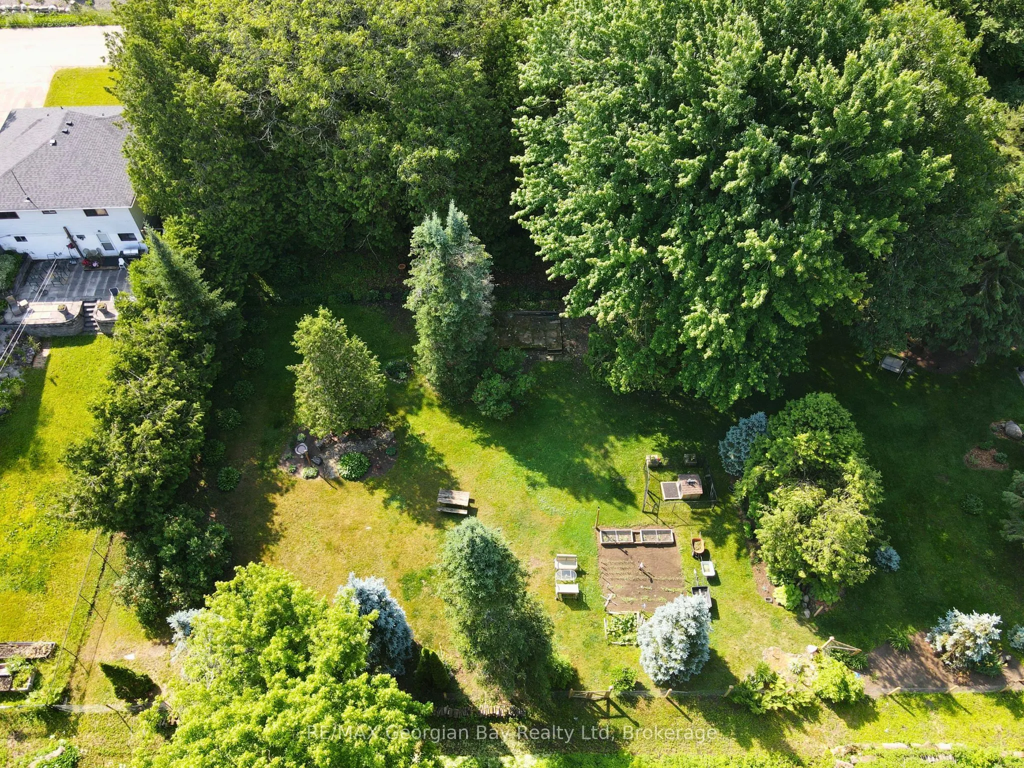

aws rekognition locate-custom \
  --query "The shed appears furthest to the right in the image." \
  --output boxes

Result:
[679,468,705,496]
